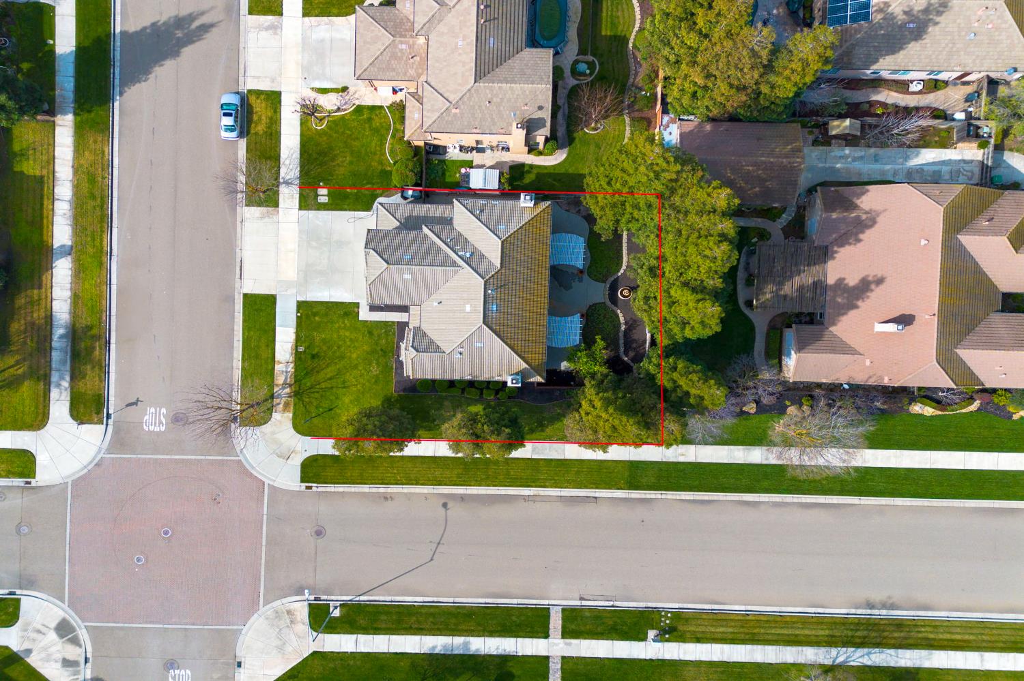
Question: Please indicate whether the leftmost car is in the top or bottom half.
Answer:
top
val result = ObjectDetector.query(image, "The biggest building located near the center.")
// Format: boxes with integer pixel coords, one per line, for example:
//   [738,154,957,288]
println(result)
[364,184,552,386]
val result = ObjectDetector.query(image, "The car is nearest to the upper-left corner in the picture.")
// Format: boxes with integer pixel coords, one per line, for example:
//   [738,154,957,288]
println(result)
[216,91,241,141]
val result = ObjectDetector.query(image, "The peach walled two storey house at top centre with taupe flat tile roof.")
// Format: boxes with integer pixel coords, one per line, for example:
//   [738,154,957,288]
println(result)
[354,0,554,159]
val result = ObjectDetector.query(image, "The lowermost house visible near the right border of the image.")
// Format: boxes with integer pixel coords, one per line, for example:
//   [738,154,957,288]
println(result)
[782,182,1024,390]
